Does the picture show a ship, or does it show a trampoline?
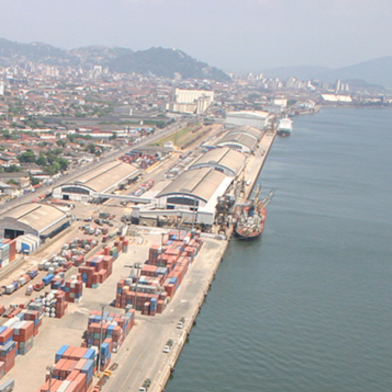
ship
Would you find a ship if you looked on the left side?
No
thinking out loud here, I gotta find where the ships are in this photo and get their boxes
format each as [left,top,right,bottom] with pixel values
[235,182,285,243]
[278,107,293,136]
